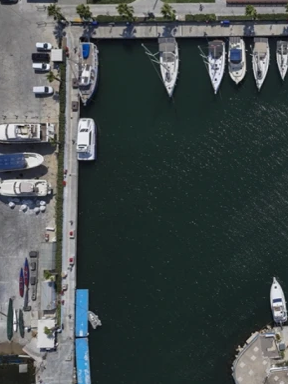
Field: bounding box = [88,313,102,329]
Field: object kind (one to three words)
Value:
boat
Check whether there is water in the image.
Yes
